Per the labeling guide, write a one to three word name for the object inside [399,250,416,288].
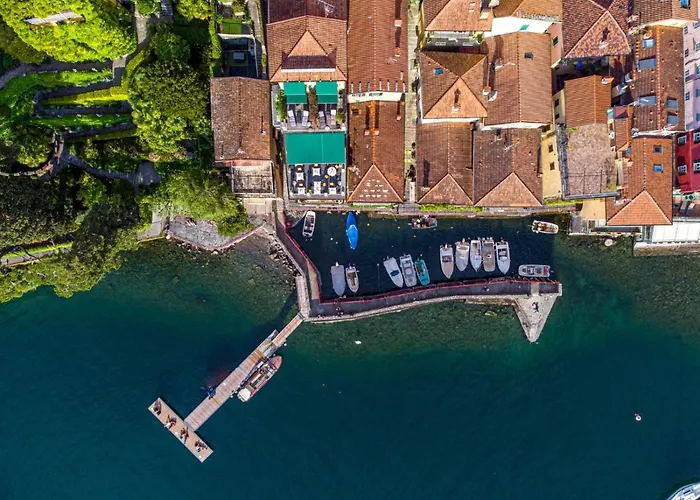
boat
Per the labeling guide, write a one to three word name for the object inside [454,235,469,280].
boat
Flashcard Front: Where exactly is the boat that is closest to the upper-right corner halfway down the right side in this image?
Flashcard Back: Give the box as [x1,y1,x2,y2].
[526,220,559,233]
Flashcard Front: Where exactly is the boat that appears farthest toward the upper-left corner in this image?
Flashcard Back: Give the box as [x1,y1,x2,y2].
[303,213,315,242]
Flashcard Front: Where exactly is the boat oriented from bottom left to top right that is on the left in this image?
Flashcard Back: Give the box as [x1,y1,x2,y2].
[236,358,280,404]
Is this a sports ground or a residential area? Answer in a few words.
residential area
